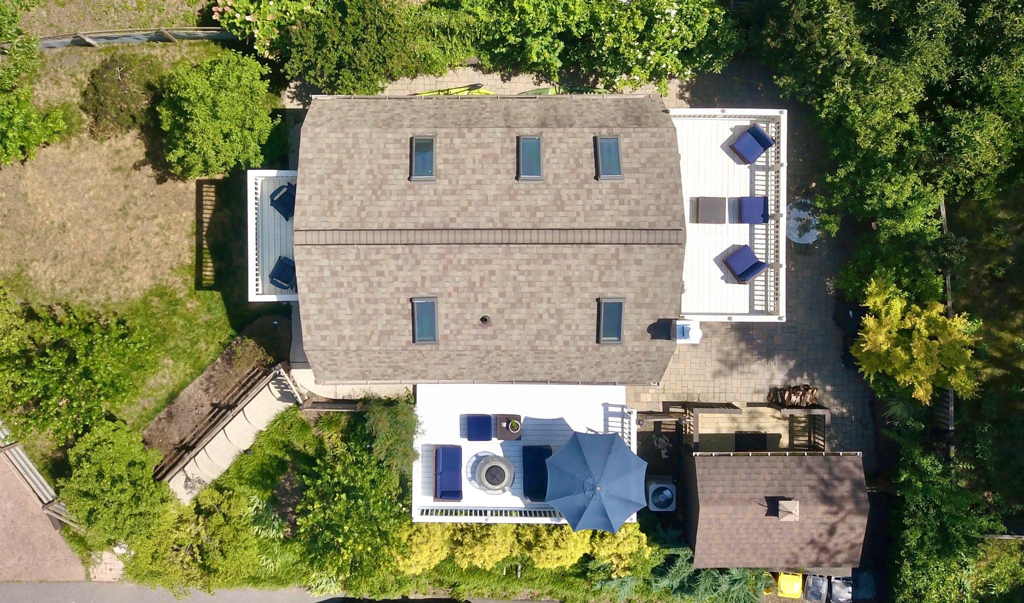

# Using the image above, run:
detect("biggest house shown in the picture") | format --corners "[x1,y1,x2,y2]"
[295,93,701,386]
